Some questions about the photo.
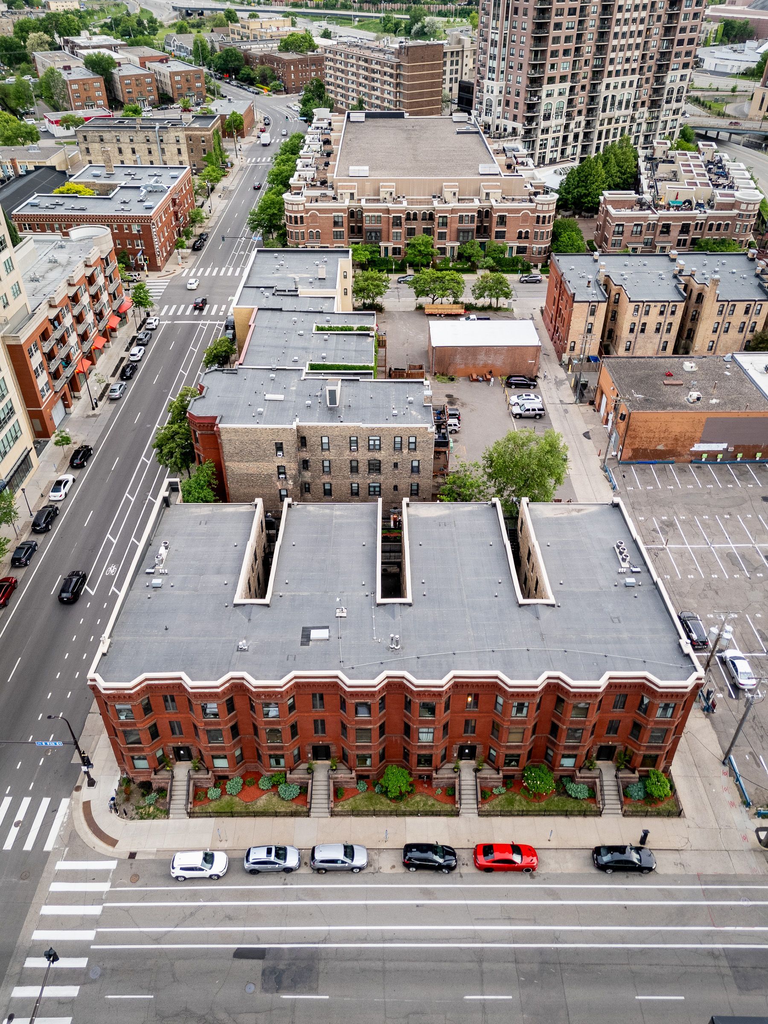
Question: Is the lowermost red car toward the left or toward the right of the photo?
right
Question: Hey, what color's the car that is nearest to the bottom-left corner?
white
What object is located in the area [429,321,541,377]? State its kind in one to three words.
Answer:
building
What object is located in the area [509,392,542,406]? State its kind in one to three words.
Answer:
car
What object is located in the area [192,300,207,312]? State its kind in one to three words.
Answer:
vehicle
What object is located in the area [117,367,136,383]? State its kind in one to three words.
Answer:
car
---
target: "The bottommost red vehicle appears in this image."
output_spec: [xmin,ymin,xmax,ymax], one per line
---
[470,844,538,877]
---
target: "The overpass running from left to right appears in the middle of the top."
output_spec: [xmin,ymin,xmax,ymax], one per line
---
[172,0,452,26]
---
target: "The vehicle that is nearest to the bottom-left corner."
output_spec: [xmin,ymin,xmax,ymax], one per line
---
[169,847,233,881]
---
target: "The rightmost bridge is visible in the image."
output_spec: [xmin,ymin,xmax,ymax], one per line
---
[687,111,768,147]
